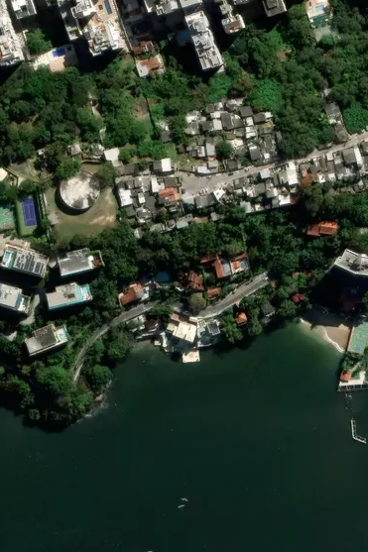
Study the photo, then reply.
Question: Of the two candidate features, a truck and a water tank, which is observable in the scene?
water tank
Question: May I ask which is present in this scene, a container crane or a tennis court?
tennis court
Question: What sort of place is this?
residential area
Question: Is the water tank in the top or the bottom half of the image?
top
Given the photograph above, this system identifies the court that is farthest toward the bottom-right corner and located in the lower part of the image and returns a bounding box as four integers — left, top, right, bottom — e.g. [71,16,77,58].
[348,322,368,352]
